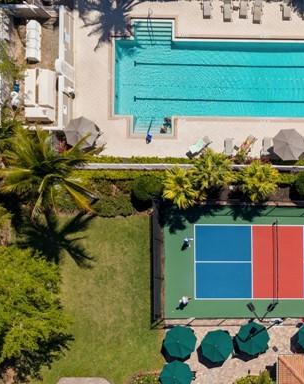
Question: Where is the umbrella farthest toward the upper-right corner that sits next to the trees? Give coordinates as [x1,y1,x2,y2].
[272,127,304,163]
